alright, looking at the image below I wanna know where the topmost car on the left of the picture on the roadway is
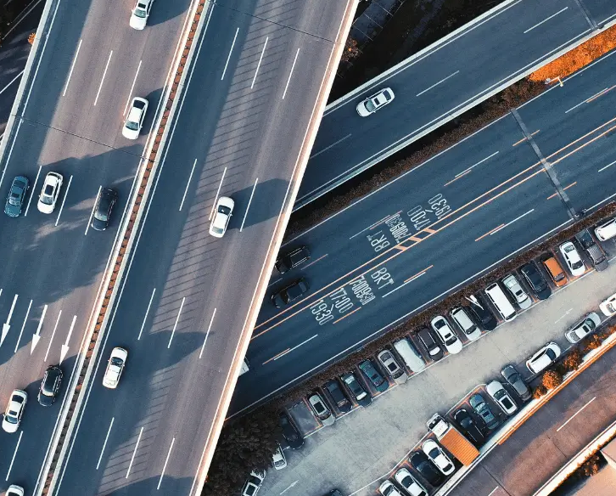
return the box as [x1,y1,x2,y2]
[130,0,153,30]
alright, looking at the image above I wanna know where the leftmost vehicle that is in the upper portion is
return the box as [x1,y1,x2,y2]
[5,175,30,217]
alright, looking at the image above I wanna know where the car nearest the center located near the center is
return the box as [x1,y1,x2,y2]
[274,244,312,273]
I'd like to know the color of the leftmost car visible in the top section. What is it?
blue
